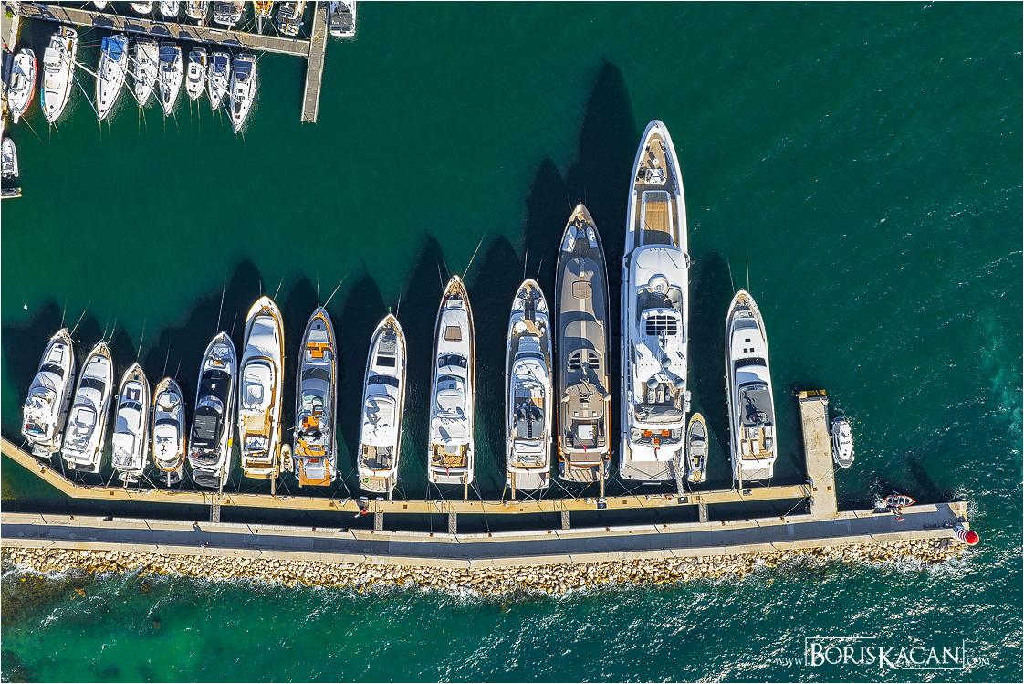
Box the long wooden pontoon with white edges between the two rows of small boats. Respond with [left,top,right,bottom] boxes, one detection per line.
[22,3,310,58]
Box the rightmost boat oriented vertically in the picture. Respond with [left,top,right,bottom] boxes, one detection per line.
[829,416,855,468]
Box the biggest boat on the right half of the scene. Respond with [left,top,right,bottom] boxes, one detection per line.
[616,120,694,494]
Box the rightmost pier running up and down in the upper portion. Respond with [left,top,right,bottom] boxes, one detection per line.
[302,0,329,123]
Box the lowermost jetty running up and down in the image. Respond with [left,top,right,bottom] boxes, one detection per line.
[797,389,837,518]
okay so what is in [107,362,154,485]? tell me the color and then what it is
white boat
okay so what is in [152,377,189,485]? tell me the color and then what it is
white boat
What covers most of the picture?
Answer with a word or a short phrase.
water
